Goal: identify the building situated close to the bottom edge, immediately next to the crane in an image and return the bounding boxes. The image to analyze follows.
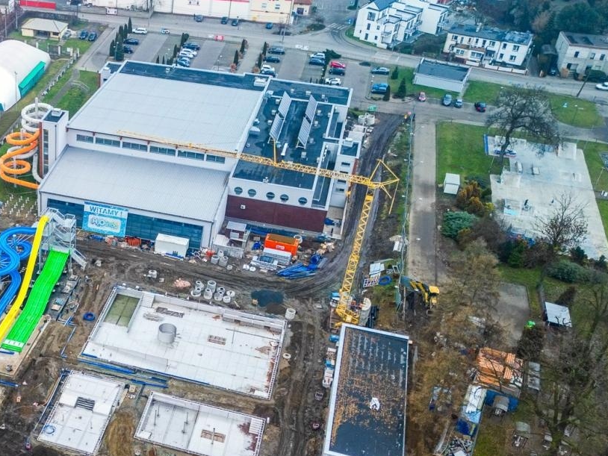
[322,324,412,456]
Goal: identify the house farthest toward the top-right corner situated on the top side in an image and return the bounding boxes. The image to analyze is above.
[551,29,608,78]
